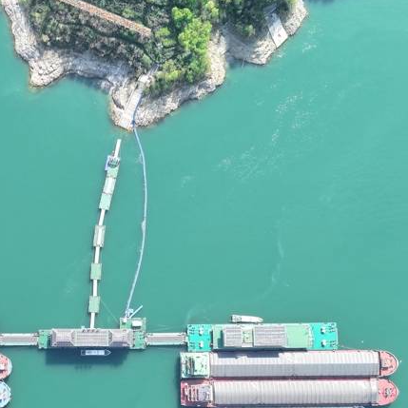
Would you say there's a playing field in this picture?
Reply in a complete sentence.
No, there isn't any playing field down there.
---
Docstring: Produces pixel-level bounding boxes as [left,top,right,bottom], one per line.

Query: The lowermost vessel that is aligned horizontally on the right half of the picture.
[181,379,399,407]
